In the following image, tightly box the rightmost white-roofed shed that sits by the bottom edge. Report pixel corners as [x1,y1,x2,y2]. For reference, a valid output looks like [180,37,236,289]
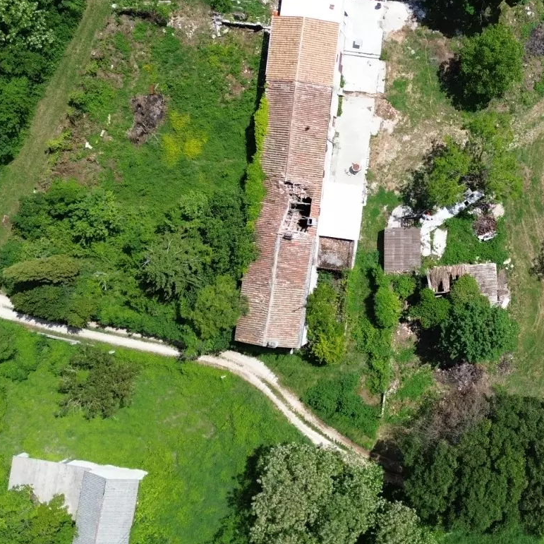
[65,460,148,544]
